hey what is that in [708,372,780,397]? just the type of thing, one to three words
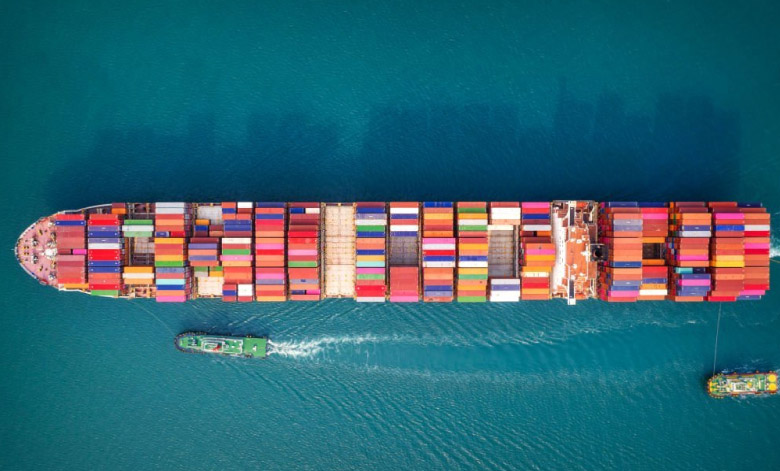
boat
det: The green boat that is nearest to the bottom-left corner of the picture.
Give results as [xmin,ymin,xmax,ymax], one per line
[174,332,267,358]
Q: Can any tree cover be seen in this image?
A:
No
